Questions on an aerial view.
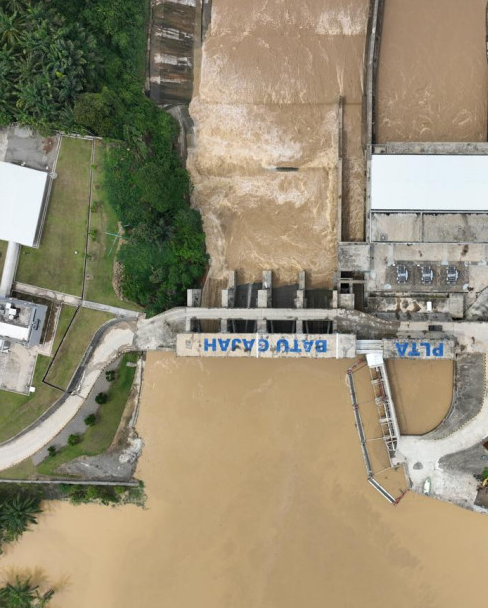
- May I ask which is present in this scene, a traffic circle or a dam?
dam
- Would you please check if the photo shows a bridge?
Yes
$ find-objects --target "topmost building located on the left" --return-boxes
[0,163,54,246]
